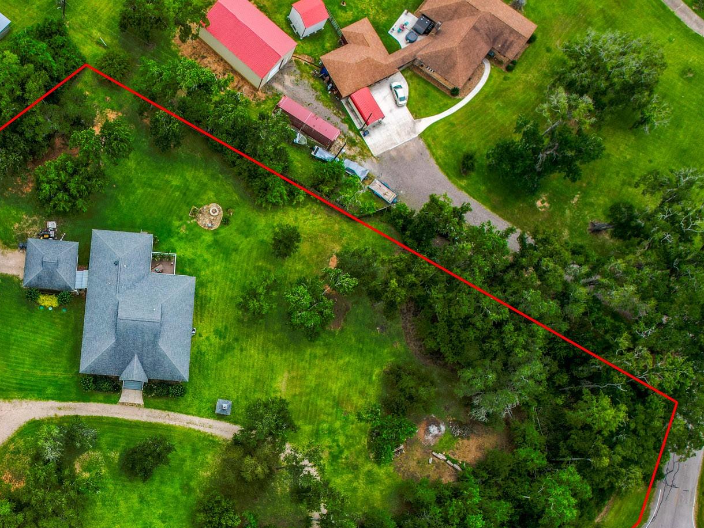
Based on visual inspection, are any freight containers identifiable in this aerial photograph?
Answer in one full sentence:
Yes, a freight container is visible in the scene.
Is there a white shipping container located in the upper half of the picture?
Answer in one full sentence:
No, in the upper half of the picture there is no white shipping container.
